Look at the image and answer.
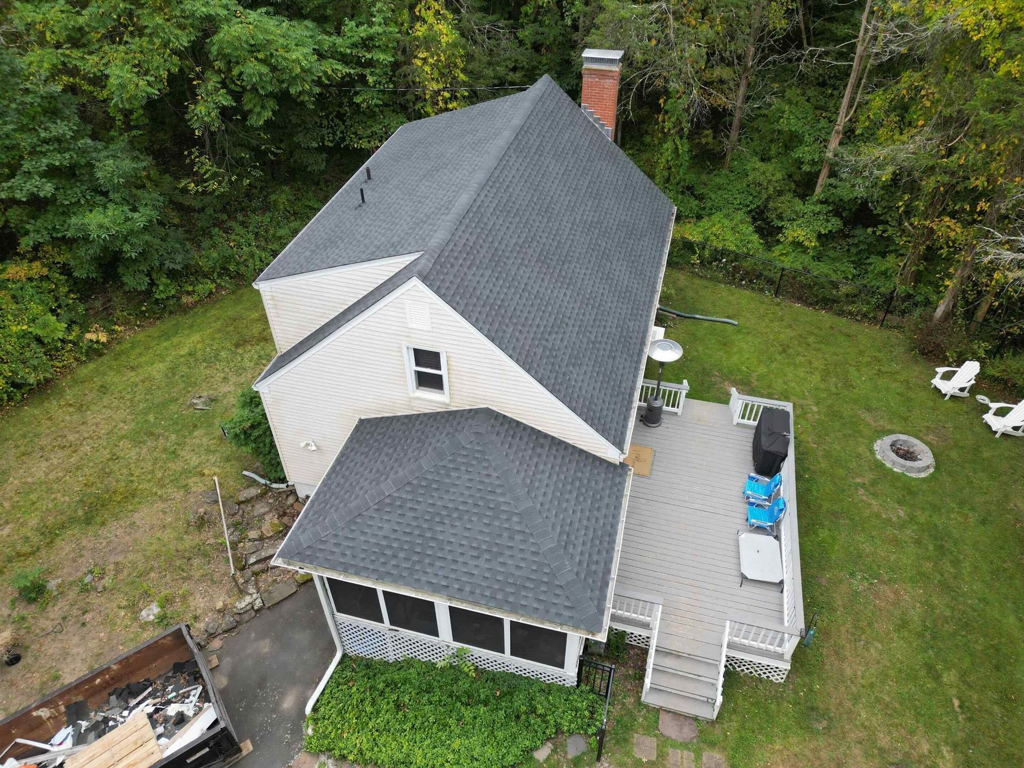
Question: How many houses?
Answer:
1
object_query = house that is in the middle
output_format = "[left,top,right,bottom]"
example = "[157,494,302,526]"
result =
[251,44,677,720]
